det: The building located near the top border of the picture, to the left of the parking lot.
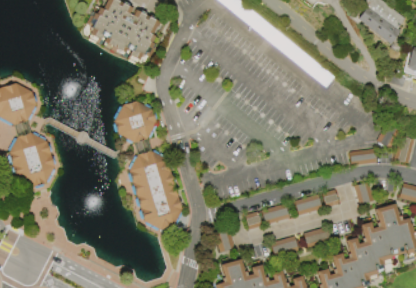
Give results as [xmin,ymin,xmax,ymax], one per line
[91,0,160,58]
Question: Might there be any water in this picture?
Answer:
Yes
